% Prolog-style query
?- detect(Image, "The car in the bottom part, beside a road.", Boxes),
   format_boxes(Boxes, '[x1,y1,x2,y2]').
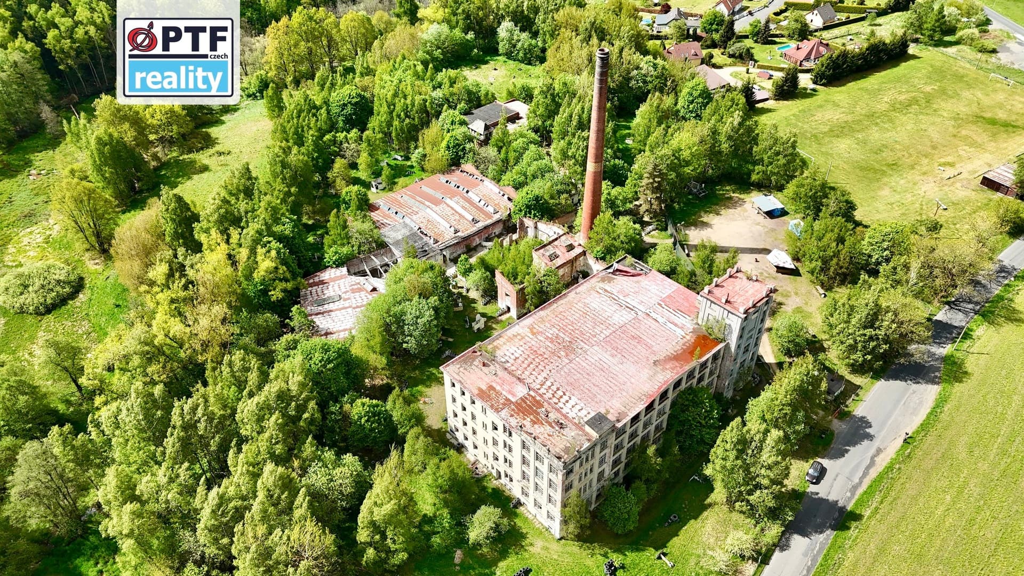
[805,459,825,484]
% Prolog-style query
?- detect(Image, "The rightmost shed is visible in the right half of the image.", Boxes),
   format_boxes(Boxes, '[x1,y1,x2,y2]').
[976,163,1023,196]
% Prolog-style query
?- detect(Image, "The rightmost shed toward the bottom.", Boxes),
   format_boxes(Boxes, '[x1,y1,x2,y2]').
[822,365,860,400]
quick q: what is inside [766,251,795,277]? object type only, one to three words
shed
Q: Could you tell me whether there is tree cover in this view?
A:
Yes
